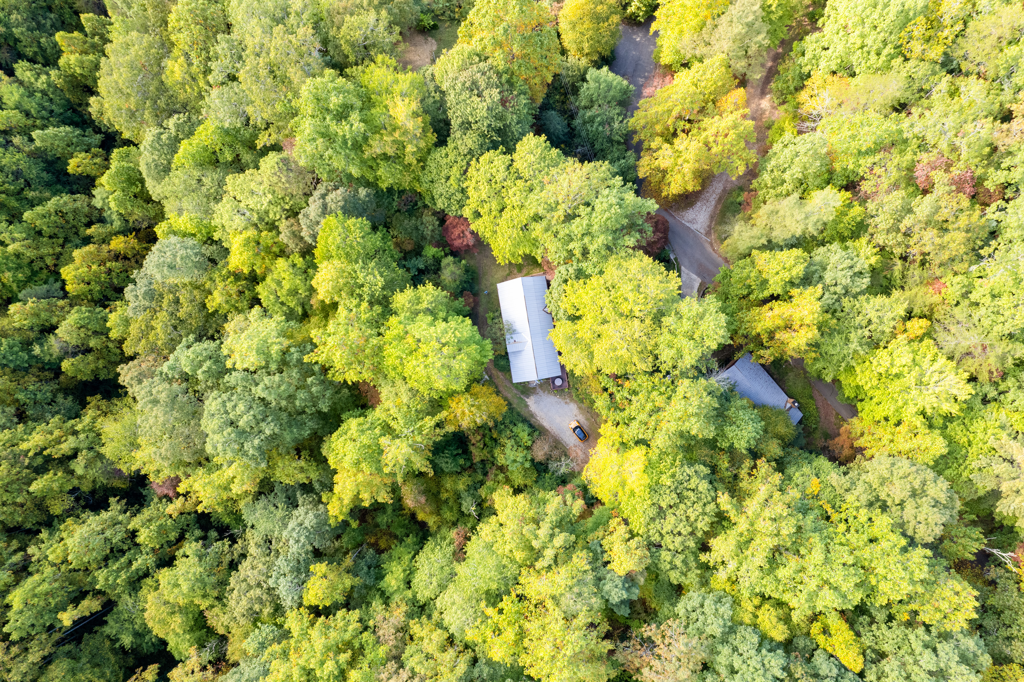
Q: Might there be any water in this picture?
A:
No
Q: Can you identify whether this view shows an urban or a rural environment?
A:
rural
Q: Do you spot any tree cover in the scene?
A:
Yes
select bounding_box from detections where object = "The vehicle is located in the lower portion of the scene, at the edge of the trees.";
[569,420,588,442]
